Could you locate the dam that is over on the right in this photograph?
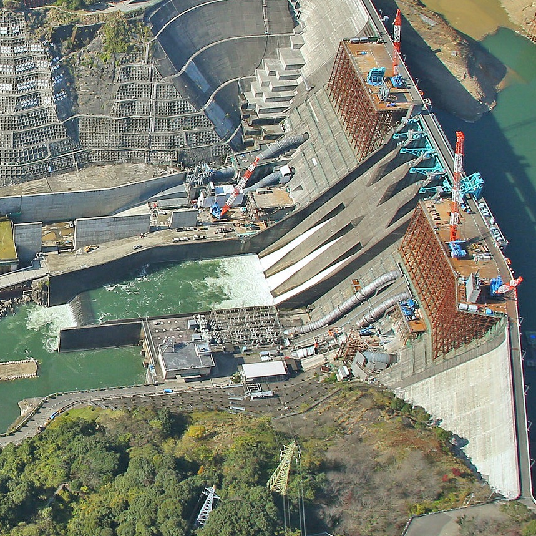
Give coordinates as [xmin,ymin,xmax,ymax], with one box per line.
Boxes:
[248,0,535,500]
